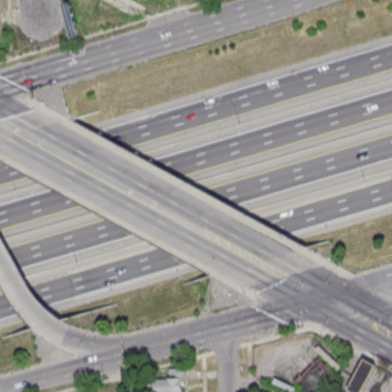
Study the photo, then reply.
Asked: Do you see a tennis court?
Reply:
No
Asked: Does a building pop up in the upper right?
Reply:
No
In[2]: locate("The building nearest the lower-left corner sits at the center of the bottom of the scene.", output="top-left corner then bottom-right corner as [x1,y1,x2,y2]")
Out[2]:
[153,368,183,392]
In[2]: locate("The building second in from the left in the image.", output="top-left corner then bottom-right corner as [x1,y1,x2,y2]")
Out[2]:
[295,356,330,392]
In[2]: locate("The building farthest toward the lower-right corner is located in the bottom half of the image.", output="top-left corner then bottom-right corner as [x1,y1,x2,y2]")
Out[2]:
[345,356,374,392]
